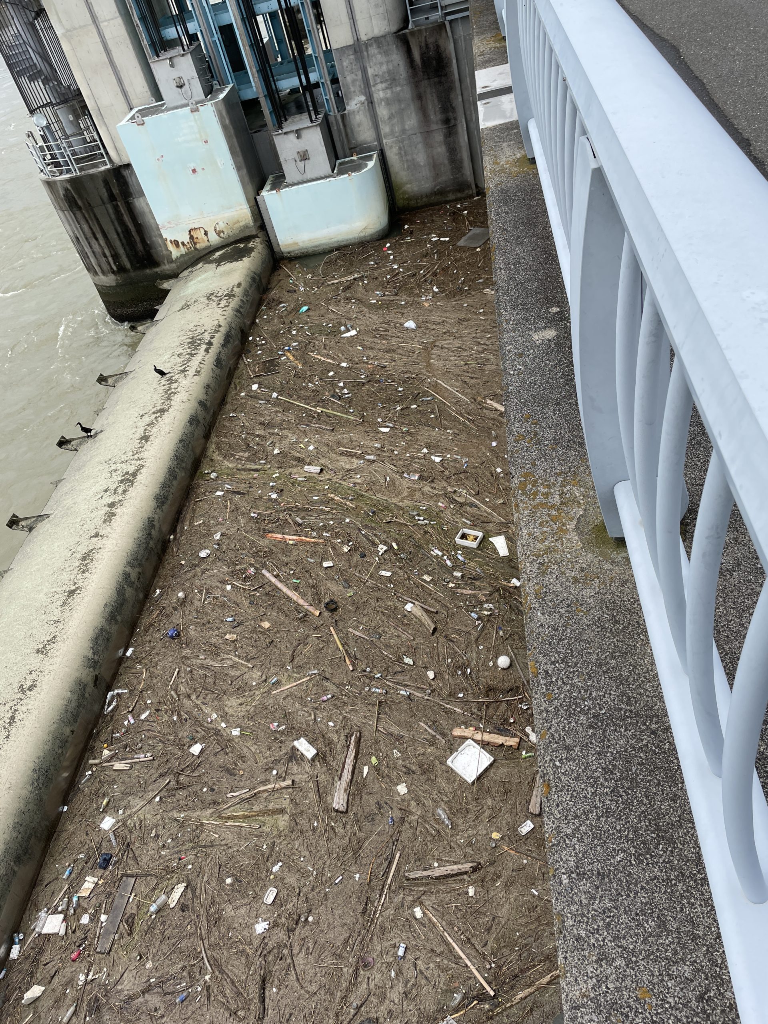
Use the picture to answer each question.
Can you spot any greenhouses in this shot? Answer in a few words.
No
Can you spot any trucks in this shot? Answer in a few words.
No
